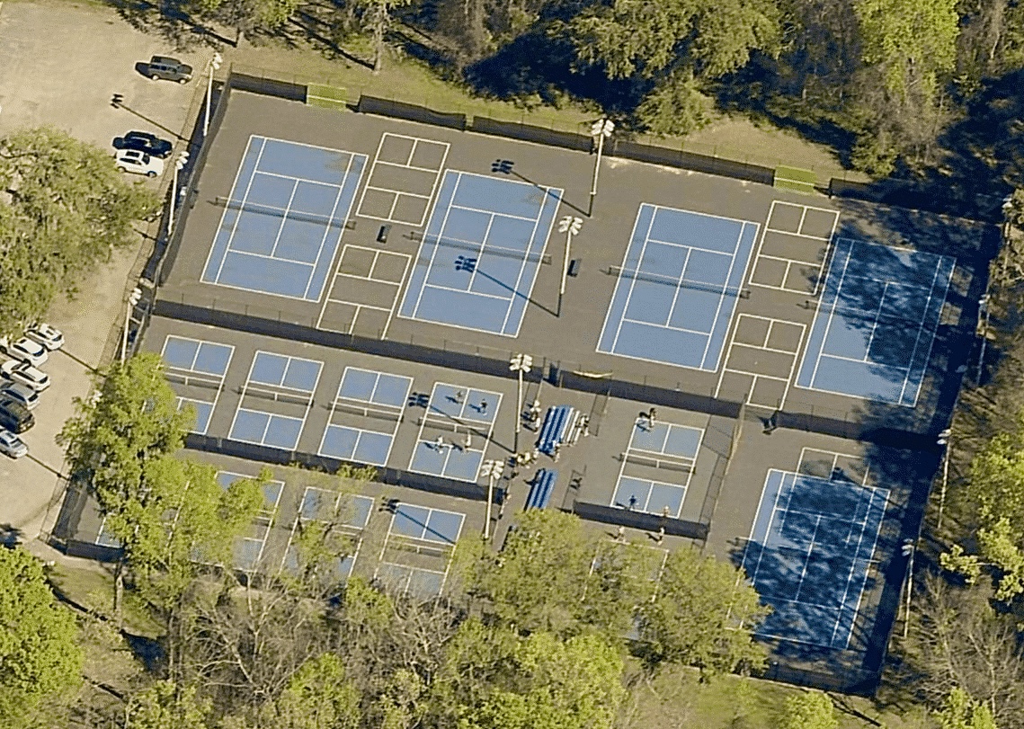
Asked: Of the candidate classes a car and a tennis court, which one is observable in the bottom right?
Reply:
tennis court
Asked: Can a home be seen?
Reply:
No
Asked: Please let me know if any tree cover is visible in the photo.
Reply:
Yes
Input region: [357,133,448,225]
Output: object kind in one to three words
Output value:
sports court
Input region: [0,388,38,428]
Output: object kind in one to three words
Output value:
car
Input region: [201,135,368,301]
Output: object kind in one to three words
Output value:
tennis court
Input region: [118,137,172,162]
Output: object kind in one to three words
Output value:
car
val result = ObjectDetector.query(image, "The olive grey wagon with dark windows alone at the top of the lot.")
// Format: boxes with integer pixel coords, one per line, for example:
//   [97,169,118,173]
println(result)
[143,58,195,88]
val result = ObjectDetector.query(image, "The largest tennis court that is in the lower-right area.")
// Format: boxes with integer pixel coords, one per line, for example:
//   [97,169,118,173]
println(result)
[735,470,889,648]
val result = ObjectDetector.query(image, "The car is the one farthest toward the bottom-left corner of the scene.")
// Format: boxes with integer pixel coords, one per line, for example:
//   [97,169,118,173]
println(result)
[0,424,31,456]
